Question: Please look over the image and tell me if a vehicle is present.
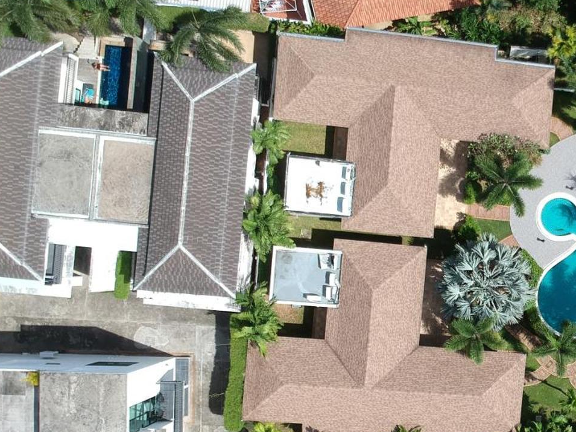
No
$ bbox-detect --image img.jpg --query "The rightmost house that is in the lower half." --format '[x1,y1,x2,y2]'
[241,238,527,432]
